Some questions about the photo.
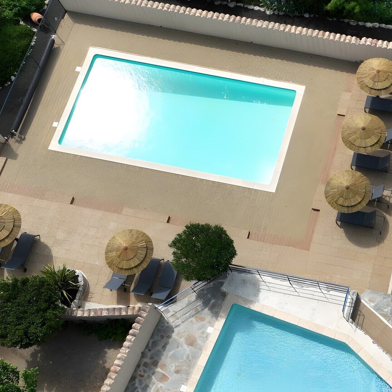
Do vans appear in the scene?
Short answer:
No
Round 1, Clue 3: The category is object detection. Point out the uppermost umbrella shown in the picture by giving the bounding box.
[354,60,392,103]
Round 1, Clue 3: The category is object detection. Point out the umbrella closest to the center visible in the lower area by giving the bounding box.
[103,231,154,278]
